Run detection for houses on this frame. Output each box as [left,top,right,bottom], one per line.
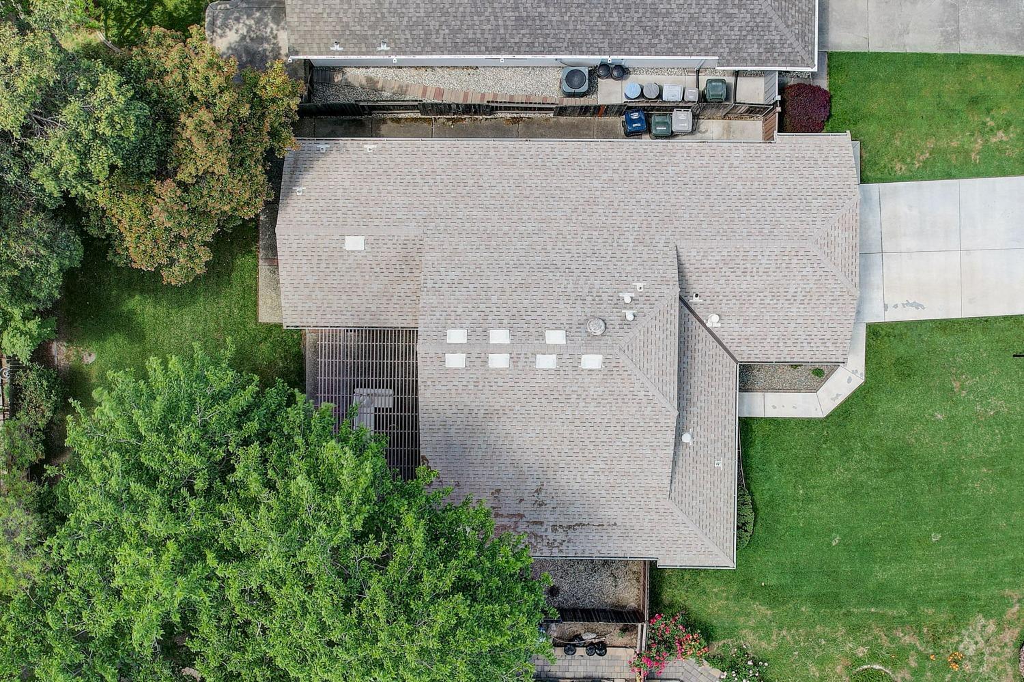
[282,0,820,73]
[274,128,860,571]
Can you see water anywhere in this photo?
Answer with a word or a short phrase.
No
